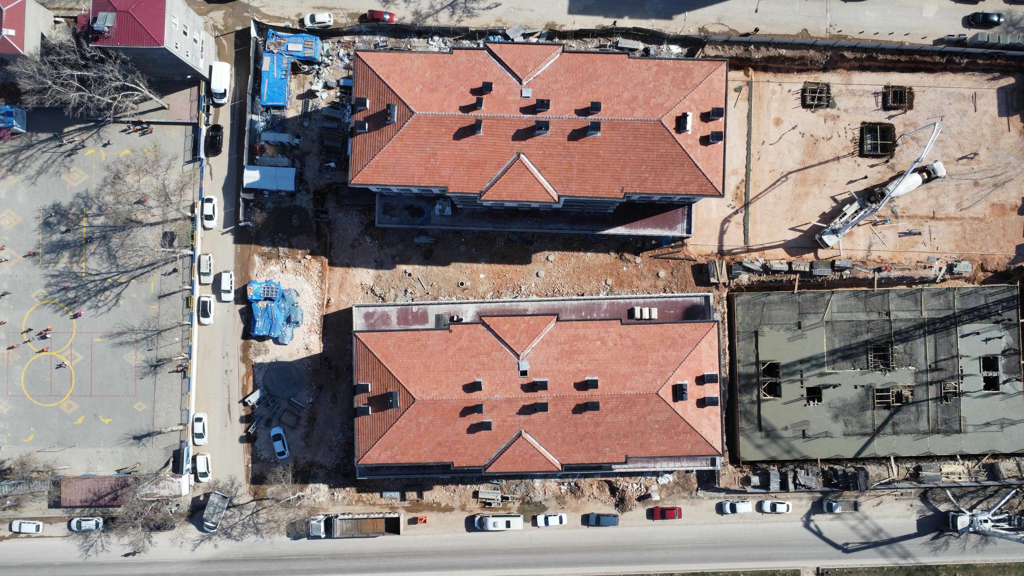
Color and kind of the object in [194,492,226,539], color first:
gray truck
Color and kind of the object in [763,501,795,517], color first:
white car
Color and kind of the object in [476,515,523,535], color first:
white vehicle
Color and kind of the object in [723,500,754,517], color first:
white car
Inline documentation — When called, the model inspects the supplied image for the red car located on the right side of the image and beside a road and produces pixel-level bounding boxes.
[653,507,684,523]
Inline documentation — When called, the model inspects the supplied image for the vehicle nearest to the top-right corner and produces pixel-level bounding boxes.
[971,8,1008,27]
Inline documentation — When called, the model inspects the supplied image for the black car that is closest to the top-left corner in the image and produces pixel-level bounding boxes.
[204,123,222,155]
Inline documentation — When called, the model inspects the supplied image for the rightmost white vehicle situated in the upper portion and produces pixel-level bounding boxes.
[882,156,957,199]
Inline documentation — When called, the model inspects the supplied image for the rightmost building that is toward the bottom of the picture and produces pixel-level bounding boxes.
[352,293,723,479]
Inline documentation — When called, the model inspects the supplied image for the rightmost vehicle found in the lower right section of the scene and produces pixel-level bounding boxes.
[940,486,1024,543]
